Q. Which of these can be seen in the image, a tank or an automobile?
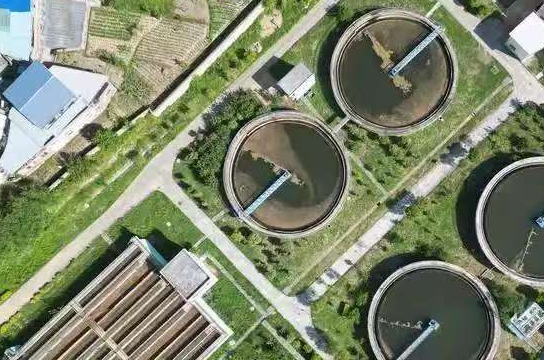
tank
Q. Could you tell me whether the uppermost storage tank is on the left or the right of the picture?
right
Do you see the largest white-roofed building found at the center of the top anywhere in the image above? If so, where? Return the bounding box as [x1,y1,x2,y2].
[278,63,313,103]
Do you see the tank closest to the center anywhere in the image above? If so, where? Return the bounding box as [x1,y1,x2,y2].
[223,110,351,238]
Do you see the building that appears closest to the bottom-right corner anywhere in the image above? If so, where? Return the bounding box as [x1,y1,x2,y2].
[504,301,544,337]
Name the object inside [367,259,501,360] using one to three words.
storage tank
